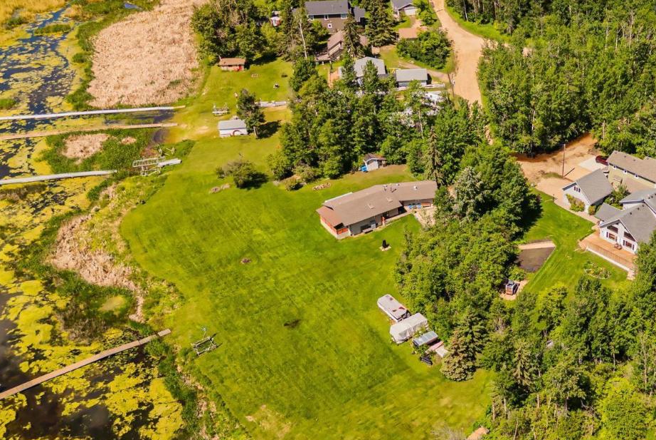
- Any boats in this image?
Yes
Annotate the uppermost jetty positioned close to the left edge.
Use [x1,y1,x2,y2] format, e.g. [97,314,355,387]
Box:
[0,107,173,121]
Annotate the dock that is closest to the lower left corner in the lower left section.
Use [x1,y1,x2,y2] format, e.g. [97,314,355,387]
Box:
[0,332,158,399]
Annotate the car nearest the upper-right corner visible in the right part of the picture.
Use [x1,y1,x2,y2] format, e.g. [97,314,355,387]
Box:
[594,156,610,168]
